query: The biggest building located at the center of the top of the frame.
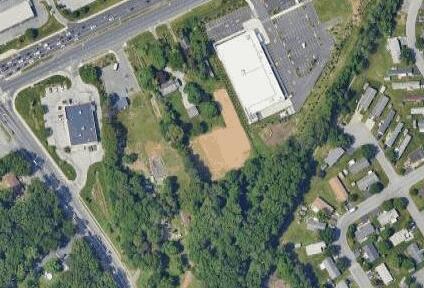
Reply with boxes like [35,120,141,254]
[213,26,287,123]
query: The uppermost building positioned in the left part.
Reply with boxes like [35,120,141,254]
[0,1,33,31]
